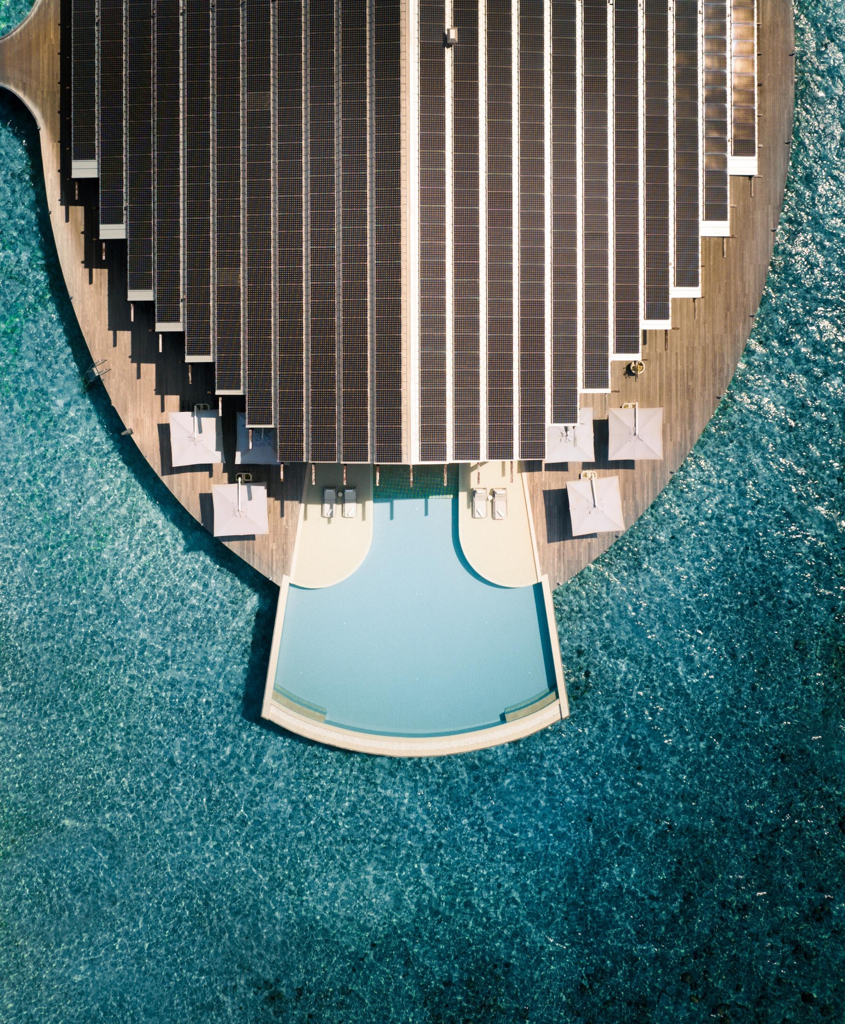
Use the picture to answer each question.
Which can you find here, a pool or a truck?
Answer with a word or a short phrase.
pool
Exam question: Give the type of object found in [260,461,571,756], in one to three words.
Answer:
swimming pool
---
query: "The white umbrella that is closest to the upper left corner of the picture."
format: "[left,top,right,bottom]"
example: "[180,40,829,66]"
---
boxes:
[169,404,226,466]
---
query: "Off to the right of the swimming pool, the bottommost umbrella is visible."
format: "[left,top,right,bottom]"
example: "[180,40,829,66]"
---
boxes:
[566,470,625,536]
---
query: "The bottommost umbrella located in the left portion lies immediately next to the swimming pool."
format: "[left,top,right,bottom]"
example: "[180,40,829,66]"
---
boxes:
[214,474,268,536]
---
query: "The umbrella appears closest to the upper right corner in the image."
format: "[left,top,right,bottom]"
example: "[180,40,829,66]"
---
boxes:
[608,400,662,461]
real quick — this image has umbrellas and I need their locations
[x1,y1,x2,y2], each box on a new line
[566,470,625,536]
[214,474,268,536]
[608,400,662,461]
[544,407,596,463]
[169,404,226,466]
[235,411,289,466]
